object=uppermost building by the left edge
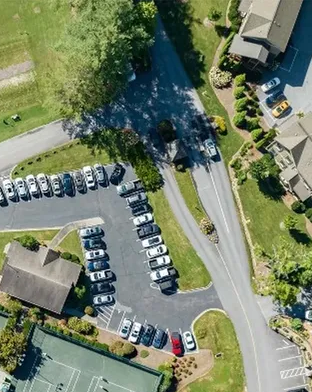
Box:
[0,241,82,315]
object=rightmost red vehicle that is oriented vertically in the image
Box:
[171,332,184,356]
